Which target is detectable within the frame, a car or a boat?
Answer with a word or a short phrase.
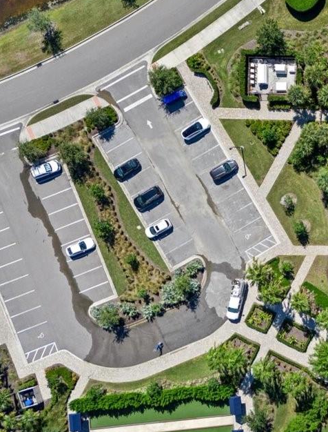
car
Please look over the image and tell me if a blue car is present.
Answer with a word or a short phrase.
Yes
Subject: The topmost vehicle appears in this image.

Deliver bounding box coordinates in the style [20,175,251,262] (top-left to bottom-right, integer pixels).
[157,88,186,107]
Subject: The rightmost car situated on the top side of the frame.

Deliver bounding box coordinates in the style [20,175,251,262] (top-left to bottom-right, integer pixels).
[206,161,238,182]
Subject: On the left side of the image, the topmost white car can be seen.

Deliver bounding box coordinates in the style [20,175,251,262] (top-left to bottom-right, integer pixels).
[28,161,60,180]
